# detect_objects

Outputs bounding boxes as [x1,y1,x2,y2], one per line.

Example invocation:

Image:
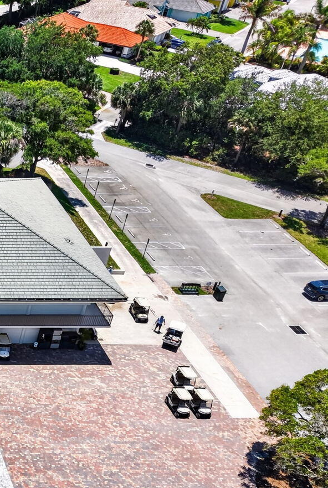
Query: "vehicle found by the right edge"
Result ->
[301,276,328,299]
